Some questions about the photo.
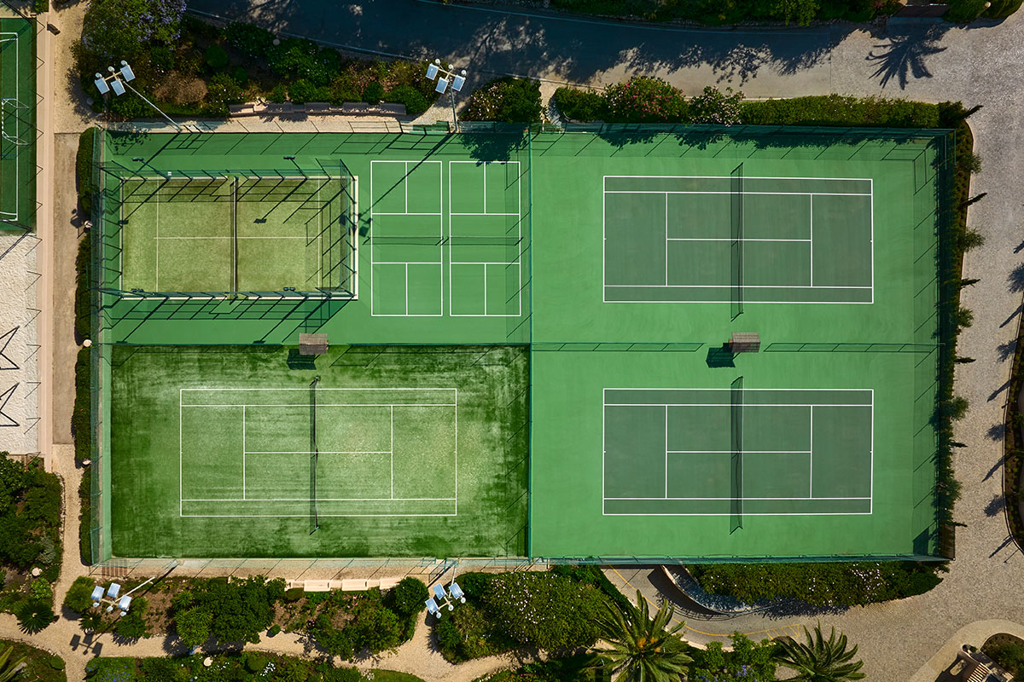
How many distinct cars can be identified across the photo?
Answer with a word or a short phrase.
zero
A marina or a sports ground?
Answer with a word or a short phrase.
sports ground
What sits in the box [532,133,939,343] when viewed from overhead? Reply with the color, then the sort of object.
green tennis court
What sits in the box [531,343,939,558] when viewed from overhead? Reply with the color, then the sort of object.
green tennis court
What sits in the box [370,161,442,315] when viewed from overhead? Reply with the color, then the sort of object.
green sports court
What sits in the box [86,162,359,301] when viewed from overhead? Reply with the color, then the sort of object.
green sports court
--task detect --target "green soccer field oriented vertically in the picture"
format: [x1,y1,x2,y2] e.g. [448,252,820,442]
[0,17,36,232]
